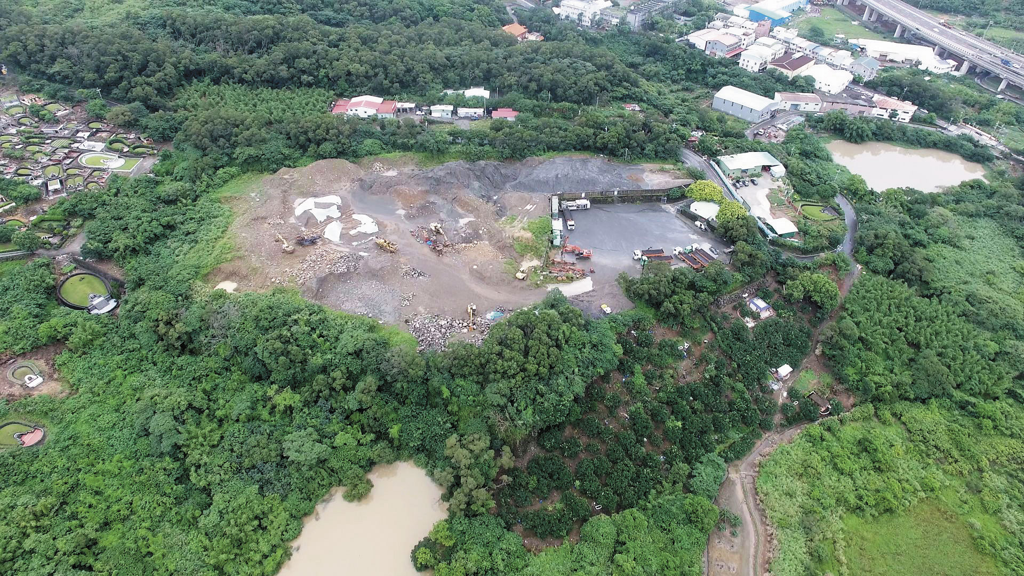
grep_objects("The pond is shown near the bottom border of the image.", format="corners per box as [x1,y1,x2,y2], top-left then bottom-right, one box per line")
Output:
[274,459,449,576]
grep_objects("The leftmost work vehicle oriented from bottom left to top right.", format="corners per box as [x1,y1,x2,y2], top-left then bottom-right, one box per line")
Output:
[517,262,538,280]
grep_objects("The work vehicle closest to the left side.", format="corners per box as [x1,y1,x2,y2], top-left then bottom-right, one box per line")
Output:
[279,234,294,254]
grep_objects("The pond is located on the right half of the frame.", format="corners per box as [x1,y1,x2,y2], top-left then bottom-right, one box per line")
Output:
[827,138,986,195]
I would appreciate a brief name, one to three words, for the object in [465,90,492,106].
barn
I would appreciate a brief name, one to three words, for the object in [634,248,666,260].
vehicle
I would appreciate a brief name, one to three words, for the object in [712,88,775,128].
building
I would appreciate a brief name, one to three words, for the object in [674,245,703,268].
truck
